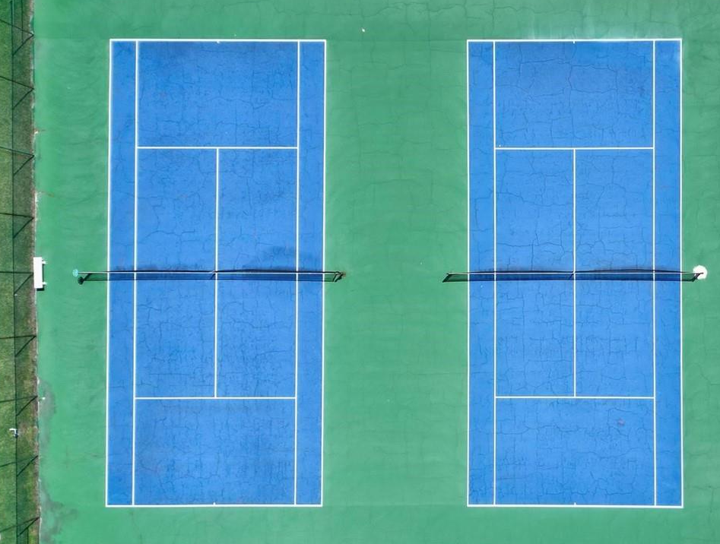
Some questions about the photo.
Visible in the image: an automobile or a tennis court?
tennis court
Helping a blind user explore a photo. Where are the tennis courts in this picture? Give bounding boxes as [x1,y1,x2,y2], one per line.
[106,39,326,507]
[467,38,683,508]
